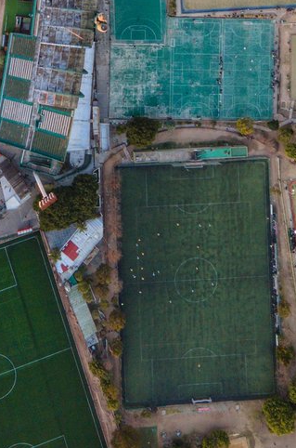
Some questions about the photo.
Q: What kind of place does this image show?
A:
sports ground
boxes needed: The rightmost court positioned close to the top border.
[221,18,275,120]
